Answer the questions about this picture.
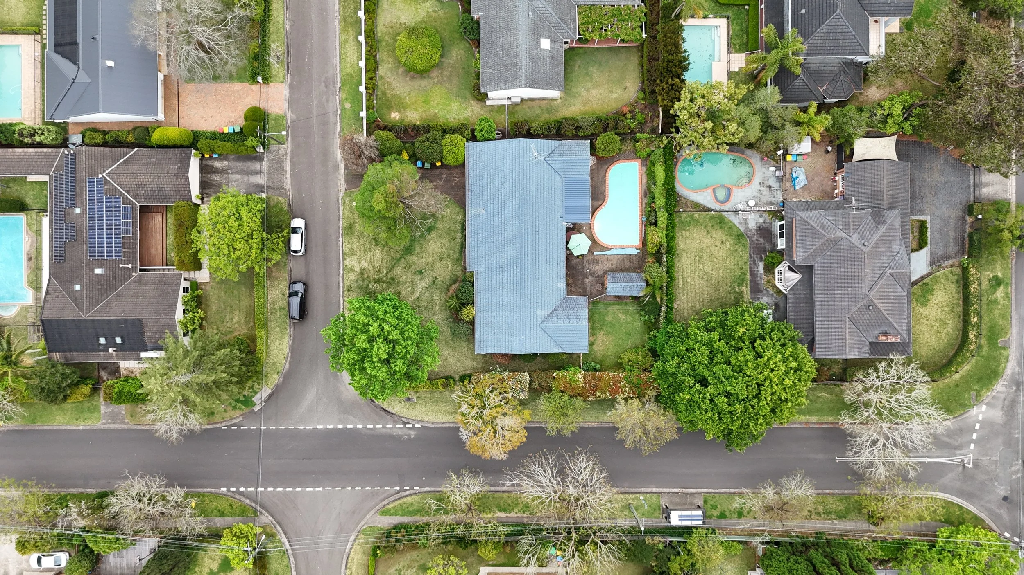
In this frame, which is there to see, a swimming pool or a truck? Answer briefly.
swimming pool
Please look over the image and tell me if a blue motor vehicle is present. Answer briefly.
No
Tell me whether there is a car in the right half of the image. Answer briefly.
No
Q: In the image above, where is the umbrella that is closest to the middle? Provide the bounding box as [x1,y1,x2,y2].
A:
[568,233,592,255]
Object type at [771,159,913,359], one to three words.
house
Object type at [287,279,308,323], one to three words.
car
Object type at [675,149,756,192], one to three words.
swimming pool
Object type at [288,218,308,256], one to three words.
car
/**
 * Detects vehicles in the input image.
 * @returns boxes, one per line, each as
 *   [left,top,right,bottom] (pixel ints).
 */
[287,279,308,323]
[288,218,308,256]
[30,551,68,572]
